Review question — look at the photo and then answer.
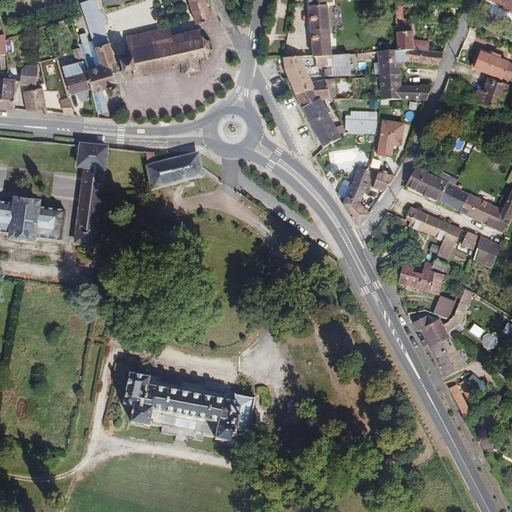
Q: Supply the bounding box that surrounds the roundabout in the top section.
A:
[218,114,248,144]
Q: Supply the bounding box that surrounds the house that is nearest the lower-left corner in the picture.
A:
[122,372,254,445]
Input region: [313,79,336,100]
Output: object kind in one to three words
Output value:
house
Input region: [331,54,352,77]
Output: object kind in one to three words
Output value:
building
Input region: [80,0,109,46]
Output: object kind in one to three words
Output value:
barn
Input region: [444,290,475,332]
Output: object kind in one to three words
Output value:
shed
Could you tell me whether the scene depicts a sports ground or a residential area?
residential area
